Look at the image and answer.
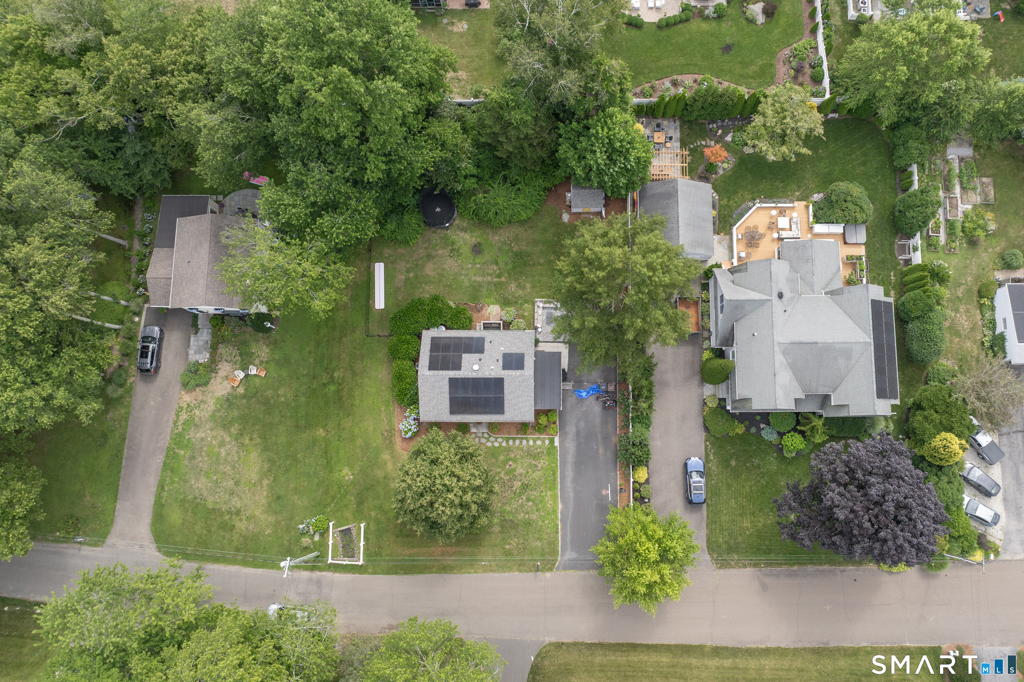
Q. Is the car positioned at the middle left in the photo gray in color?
Yes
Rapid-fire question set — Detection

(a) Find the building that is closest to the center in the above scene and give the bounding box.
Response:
[419,330,562,423]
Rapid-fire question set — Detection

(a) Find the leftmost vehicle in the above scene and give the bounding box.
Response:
[135,326,163,374]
